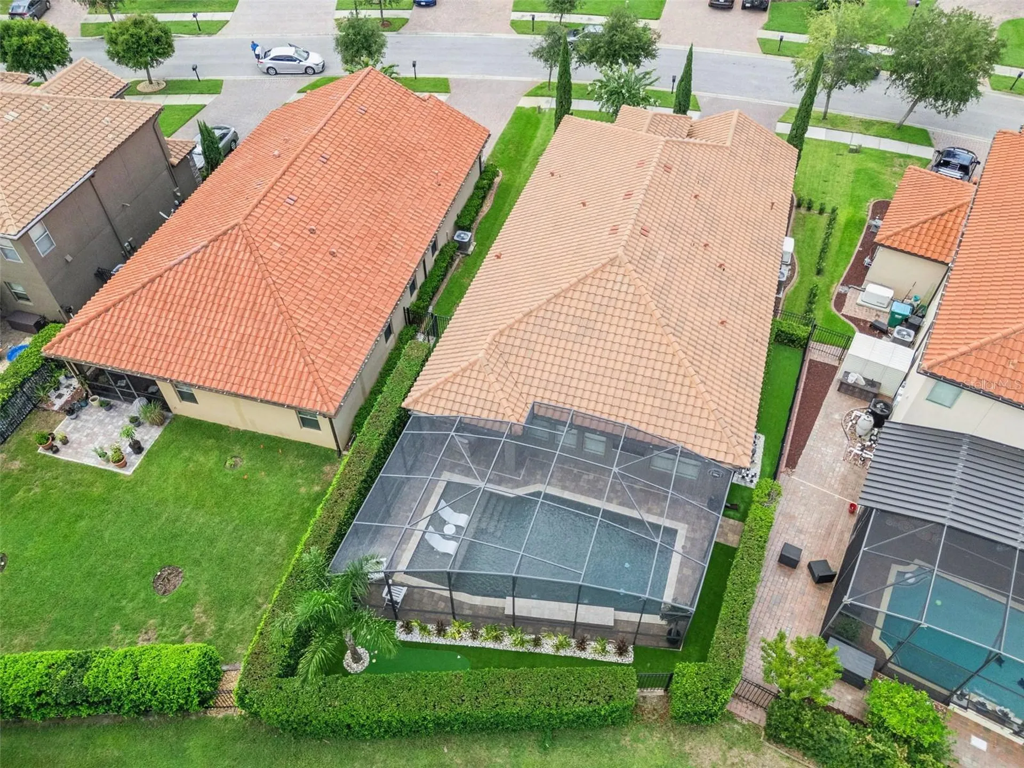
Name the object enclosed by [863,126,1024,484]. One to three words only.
house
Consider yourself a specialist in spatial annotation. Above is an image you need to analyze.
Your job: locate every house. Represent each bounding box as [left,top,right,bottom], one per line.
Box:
[40,64,493,460]
[863,126,1024,484]
[403,102,802,499]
